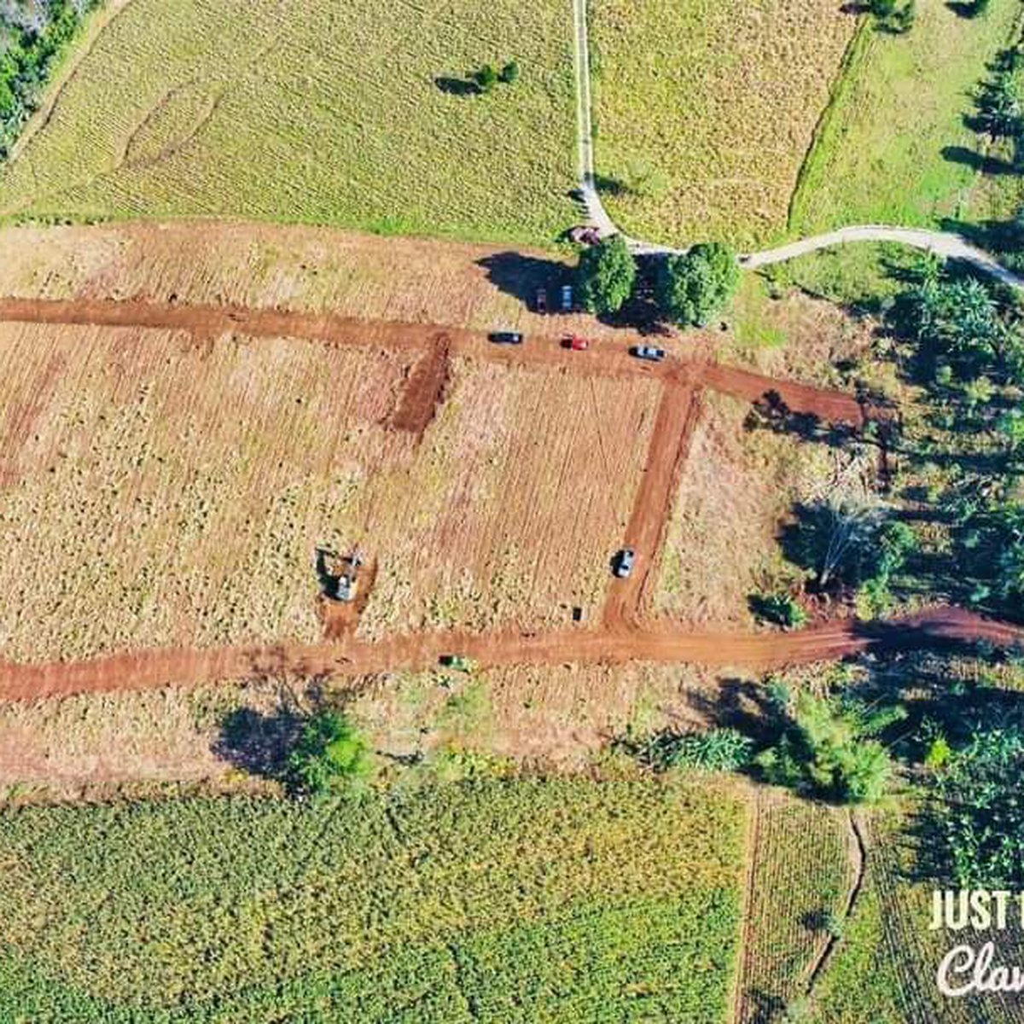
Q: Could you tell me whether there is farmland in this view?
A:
Yes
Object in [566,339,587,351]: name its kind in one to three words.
vehicle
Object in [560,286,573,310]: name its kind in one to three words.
vehicle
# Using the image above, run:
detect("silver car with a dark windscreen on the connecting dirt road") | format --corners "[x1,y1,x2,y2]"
[618,547,637,578]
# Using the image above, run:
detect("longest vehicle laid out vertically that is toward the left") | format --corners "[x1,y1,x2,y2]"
[340,552,358,599]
